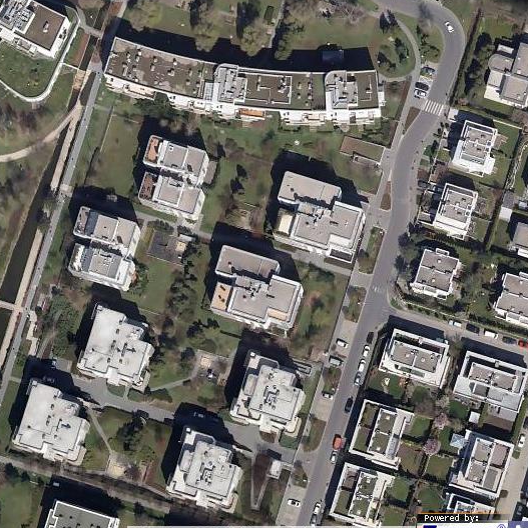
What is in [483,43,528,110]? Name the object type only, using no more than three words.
house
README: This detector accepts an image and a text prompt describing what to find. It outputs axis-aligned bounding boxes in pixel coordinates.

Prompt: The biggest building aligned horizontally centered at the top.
[105,38,385,127]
